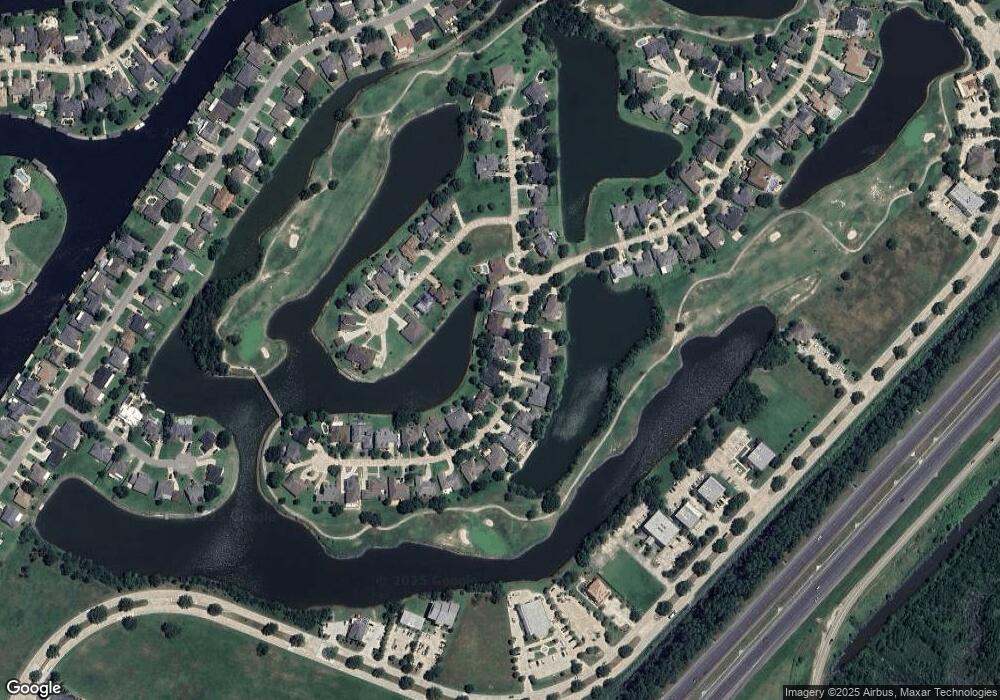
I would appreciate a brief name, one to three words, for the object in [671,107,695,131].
house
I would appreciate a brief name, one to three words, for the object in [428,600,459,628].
building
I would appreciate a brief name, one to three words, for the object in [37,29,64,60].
house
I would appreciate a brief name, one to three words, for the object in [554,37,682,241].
pond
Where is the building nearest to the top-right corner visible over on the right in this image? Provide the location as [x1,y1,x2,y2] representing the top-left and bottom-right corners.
[953,73,979,98]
